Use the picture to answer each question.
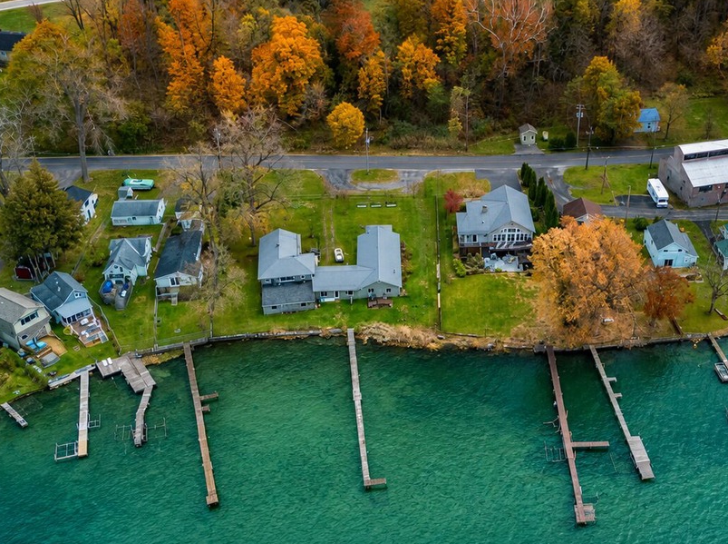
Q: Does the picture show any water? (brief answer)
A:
Yes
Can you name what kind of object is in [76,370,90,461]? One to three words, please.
pier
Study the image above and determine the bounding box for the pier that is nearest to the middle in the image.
[346,328,387,491]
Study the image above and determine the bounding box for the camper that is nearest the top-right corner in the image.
[647,173,669,204]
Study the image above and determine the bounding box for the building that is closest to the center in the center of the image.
[259,225,404,315]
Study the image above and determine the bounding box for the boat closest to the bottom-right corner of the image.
[713,362,728,383]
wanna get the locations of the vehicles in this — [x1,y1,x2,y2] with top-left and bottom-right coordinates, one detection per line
[647,173,669,204]
[335,246,345,260]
